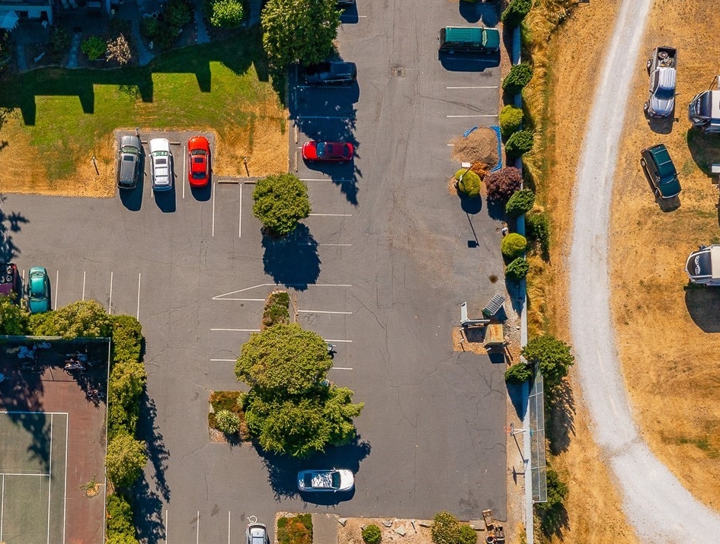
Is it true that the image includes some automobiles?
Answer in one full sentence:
Yes, an automobile is visible in the scene.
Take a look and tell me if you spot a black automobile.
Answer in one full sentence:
Yes, the picture does show a black automobile.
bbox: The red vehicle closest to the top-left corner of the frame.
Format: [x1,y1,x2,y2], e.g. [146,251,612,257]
[186,139,212,188]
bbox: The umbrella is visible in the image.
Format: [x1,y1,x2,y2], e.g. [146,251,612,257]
[0,13,20,33]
